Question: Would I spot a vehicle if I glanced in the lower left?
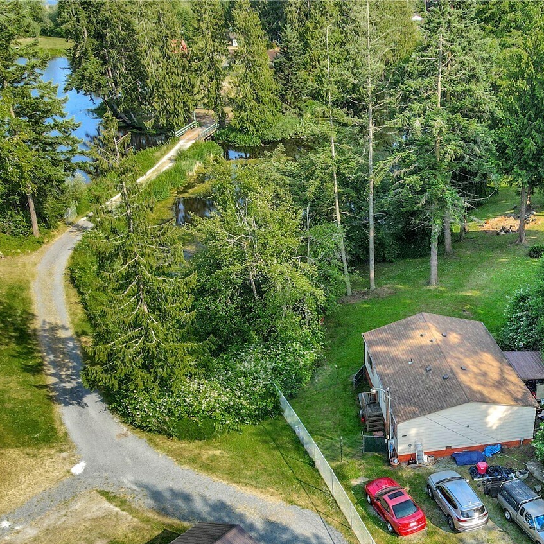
No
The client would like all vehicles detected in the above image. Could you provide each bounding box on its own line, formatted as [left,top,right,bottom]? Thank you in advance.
[363,478,427,539]
[495,477,544,544]
[425,472,488,536]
